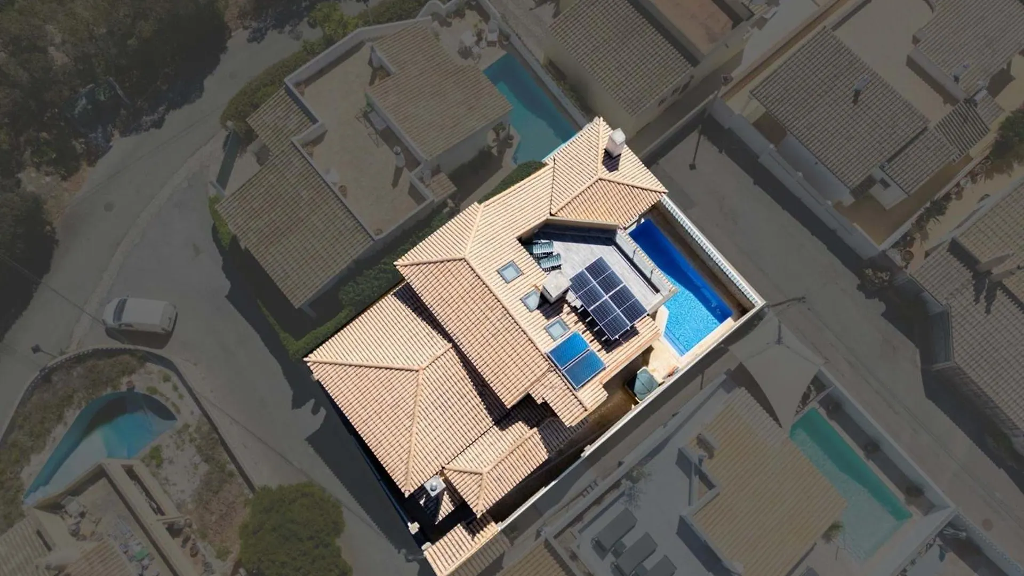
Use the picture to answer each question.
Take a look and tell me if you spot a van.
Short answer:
Yes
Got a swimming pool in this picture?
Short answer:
Yes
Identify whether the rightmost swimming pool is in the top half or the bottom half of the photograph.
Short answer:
bottom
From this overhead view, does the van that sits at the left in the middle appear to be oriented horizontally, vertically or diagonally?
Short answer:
horizontally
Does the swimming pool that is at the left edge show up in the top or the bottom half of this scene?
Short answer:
bottom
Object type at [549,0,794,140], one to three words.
house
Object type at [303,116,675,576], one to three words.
house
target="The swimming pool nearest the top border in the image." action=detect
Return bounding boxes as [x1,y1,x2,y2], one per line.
[482,52,575,164]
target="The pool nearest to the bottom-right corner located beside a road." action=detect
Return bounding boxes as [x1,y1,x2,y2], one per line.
[783,402,919,576]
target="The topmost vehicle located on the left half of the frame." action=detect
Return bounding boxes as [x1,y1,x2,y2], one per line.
[103,298,179,338]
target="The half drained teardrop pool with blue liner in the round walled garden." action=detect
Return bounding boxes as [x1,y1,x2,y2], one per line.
[24,392,176,505]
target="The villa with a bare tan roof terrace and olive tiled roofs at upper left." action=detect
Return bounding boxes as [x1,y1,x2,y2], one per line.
[215,19,512,310]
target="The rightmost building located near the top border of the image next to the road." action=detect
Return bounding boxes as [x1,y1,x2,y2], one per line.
[747,0,1024,222]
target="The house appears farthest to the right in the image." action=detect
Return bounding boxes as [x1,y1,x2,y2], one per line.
[889,174,1024,442]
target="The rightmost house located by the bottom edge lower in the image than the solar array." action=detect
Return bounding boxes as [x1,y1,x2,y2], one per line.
[502,367,848,576]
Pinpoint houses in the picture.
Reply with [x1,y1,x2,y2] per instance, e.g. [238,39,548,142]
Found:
[889,174,1024,442]
[502,367,848,576]
[215,19,512,310]
[549,0,794,140]
[747,0,1024,222]
[0,457,233,576]
[303,116,675,576]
